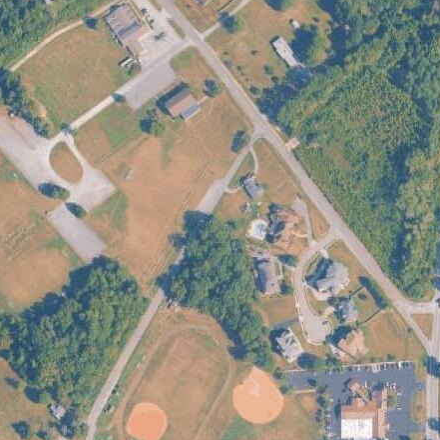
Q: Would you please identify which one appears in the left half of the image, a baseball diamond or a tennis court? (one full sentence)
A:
There is a baseball diamond in the left half of the image.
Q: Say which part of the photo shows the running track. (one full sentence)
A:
The running track sits in the bottom section of the image.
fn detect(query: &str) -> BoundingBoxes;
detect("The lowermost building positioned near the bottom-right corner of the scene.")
[340,377,388,440]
